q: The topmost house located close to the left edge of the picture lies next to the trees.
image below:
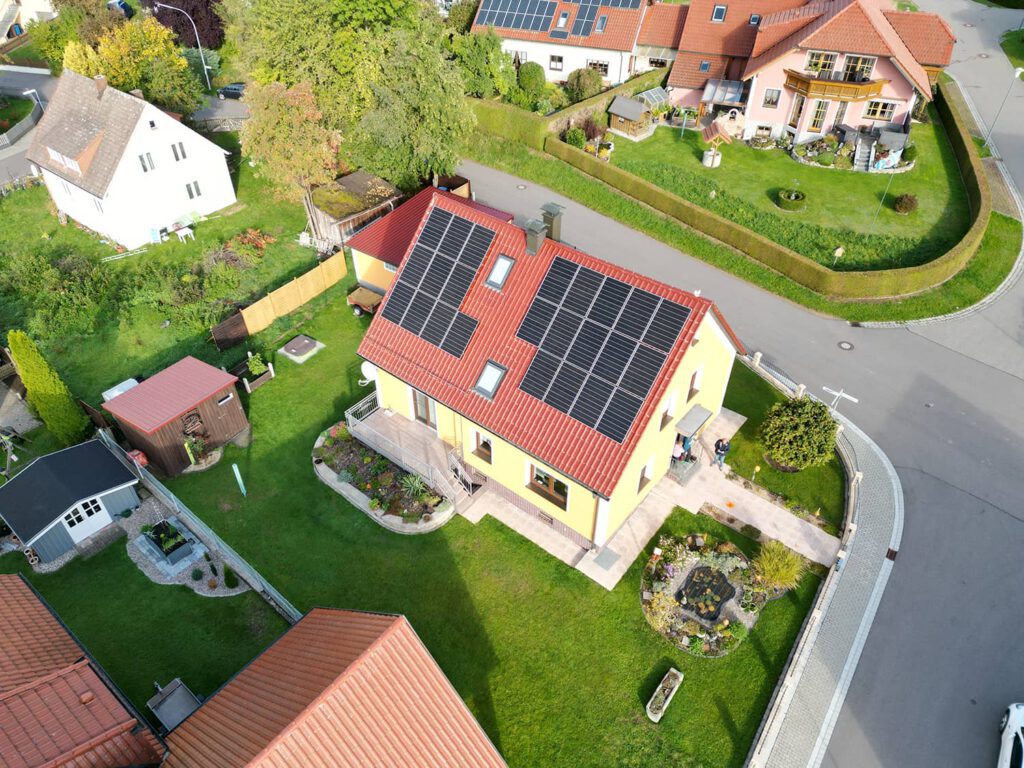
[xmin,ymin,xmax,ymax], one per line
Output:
[25,67,233,249]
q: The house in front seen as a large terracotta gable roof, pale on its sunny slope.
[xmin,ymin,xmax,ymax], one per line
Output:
[121,605,509,768]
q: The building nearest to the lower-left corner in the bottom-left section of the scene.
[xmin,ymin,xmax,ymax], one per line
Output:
[0,568,164,768]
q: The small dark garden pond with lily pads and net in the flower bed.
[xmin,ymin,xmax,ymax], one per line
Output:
[676,566,736,620]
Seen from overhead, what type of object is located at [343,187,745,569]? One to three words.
house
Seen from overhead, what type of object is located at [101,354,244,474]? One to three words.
shed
